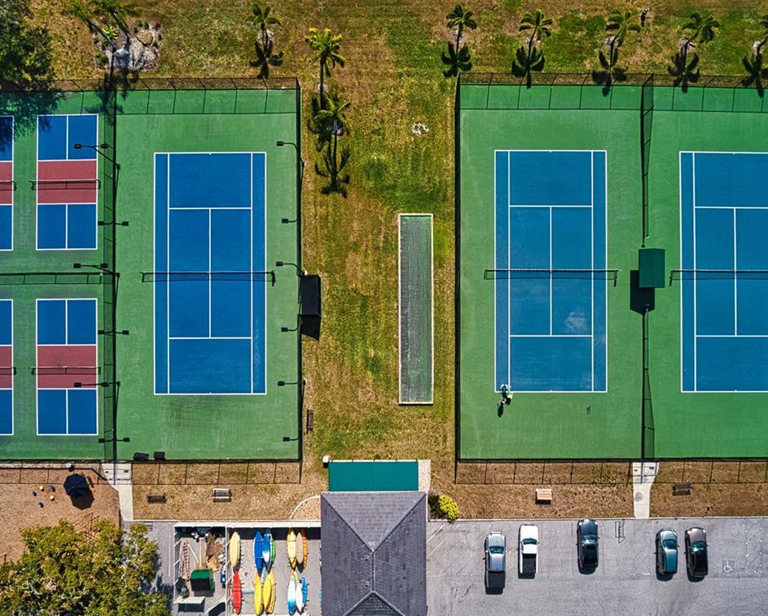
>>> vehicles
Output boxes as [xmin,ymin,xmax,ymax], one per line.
[574,517,598,568]
[683,525,708,576]
[518,521,540,573]
[484,527,506,586]
[653,525,678,573]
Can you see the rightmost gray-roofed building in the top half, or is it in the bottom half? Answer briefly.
bottom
